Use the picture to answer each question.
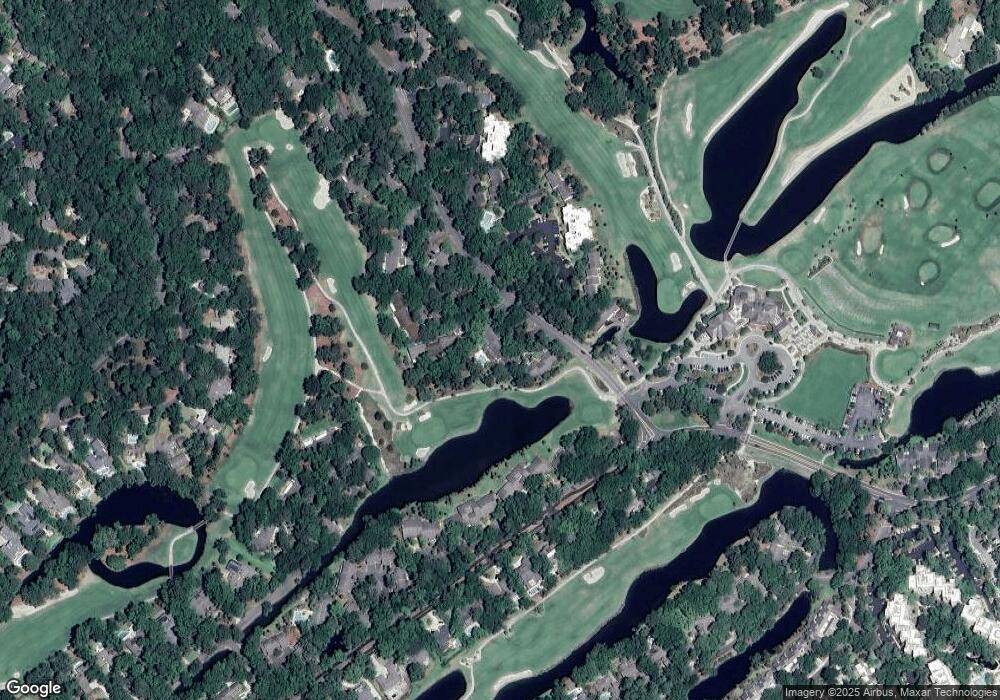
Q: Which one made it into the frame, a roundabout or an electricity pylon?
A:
roundabout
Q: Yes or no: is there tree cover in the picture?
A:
Yes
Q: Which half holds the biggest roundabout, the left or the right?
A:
right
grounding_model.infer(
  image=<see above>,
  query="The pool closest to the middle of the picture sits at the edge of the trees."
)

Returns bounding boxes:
[475,349,491,366]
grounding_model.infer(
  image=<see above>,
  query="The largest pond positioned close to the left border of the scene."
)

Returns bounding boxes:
[20,482,206,589]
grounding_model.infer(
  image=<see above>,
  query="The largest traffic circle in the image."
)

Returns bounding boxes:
[741,340,797,392]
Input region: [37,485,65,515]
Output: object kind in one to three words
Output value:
house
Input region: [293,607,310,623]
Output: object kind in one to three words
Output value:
swimming pool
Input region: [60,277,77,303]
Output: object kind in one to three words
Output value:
house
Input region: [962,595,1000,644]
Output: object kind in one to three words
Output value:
building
